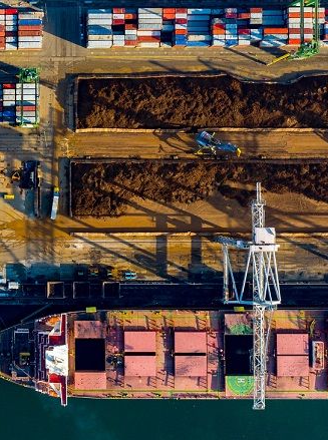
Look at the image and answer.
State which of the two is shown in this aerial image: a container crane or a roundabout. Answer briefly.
container crane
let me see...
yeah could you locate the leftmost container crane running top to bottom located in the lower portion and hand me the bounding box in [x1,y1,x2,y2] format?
[213,182,284,411]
